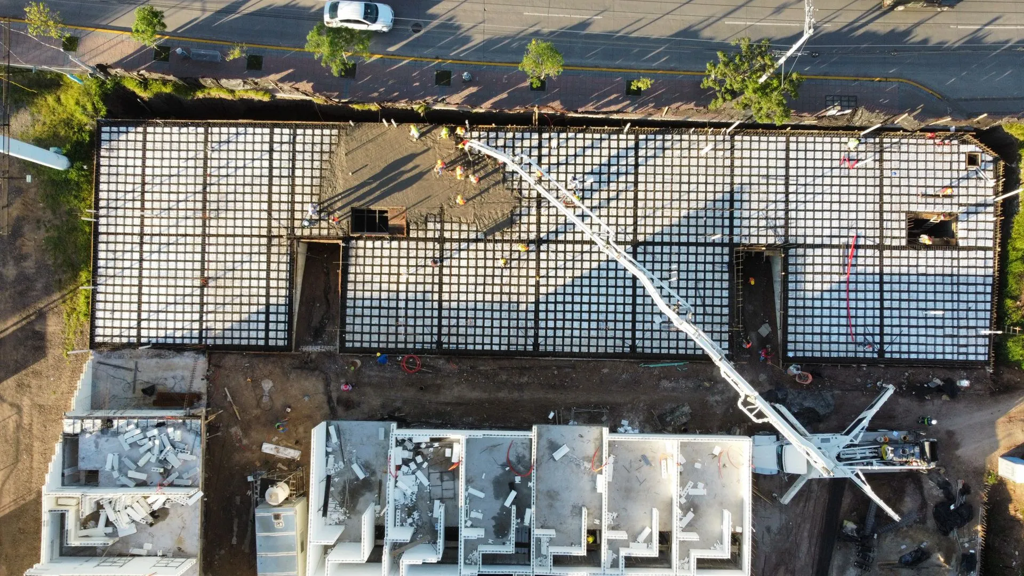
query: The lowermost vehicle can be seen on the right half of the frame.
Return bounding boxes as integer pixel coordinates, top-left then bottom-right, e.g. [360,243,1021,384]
[460,138,941,520]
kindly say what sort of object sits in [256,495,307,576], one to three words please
building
